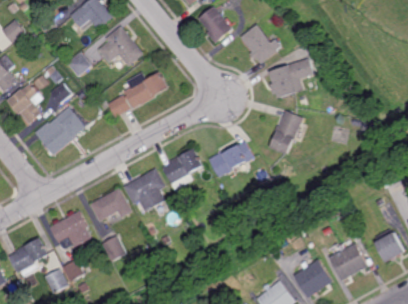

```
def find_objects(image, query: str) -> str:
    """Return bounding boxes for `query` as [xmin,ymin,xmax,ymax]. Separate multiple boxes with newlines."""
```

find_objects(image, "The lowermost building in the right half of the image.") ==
[258,280,296,304]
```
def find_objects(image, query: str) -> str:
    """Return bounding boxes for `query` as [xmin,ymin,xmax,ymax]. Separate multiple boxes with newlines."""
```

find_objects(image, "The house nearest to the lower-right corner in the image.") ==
[374,232,405,262]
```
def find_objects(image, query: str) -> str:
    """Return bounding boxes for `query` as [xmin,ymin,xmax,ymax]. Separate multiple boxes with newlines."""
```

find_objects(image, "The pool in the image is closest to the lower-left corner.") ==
[164,210,182,227]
